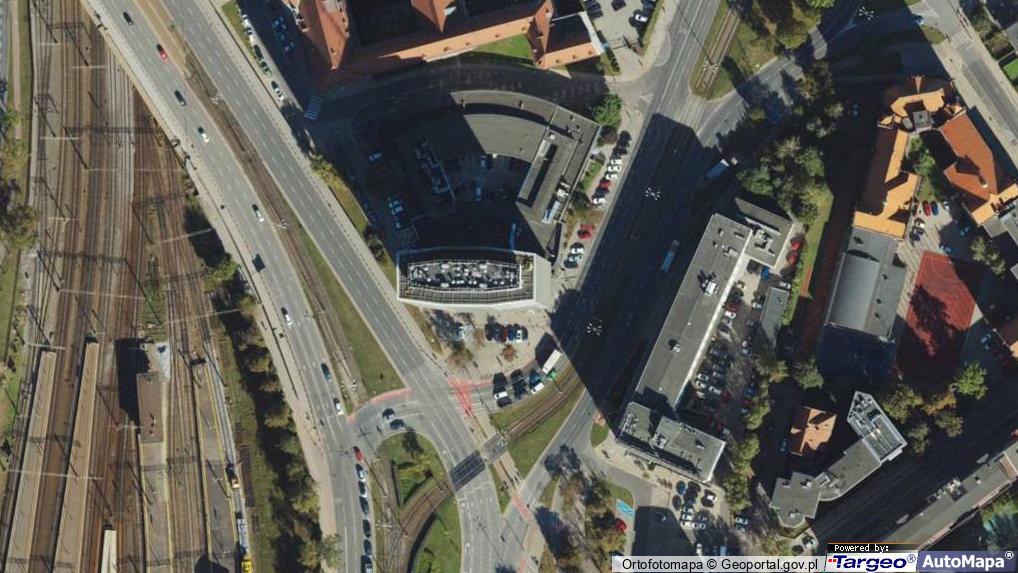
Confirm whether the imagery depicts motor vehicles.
Yes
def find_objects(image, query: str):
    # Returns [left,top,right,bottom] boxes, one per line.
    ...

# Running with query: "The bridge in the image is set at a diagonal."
[81,0,224,212]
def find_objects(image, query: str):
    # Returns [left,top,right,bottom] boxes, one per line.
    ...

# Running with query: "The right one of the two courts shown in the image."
[894,252,984,389]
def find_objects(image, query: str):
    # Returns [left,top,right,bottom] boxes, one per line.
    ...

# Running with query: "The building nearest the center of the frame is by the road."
[398,247,552,313]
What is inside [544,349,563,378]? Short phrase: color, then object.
white vehicle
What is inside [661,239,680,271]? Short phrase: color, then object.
blue vehicle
